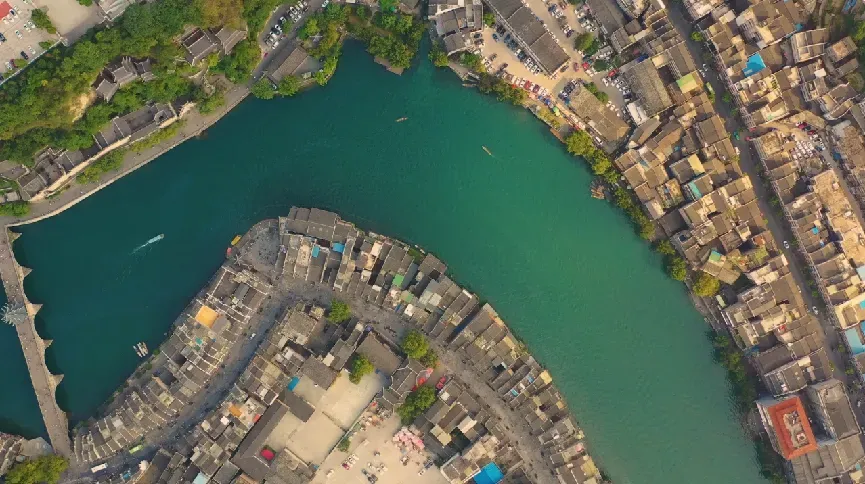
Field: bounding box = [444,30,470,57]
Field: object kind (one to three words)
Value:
house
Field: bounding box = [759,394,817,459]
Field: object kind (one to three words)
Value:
building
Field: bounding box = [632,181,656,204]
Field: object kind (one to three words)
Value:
house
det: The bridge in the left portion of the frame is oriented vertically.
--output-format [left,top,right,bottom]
[0,215,75,462]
